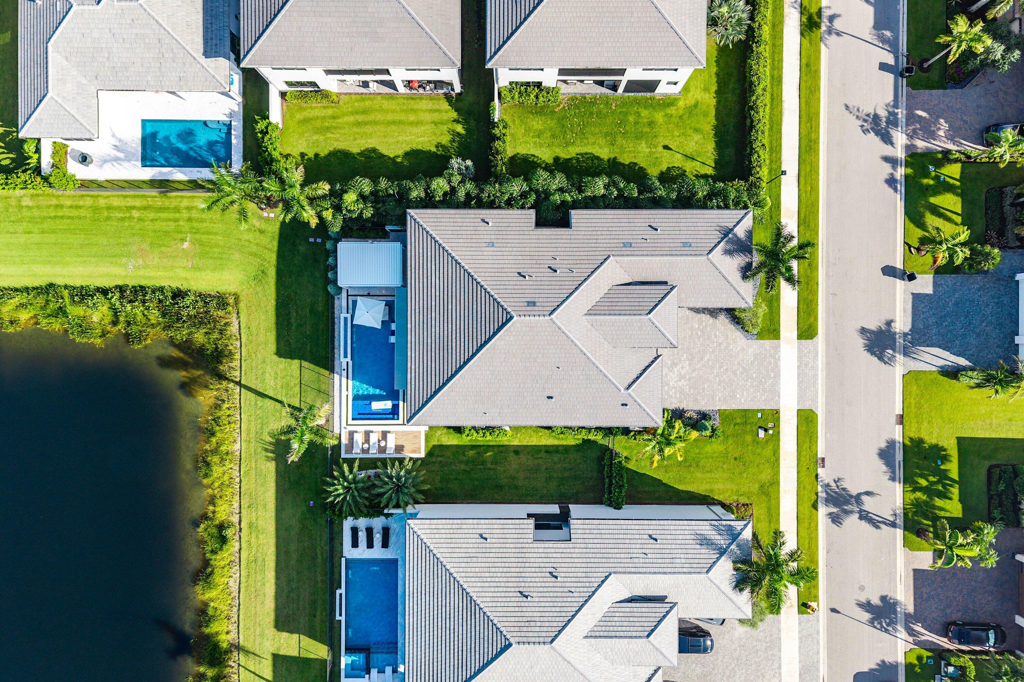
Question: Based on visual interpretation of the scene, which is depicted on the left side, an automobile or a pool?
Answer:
pool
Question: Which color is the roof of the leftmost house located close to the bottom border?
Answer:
white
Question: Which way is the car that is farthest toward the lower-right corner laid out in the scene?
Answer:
horizontally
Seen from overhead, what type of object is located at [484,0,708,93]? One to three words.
house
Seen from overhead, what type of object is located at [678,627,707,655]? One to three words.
car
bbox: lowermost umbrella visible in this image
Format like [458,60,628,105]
[352,296,388,329]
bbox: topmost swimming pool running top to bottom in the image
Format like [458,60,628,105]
[352,300,400,421]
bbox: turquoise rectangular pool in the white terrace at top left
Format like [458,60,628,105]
[141,119,233,168]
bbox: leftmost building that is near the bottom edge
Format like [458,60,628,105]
[405,503,753,682]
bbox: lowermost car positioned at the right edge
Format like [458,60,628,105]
[946,619,1003,649]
